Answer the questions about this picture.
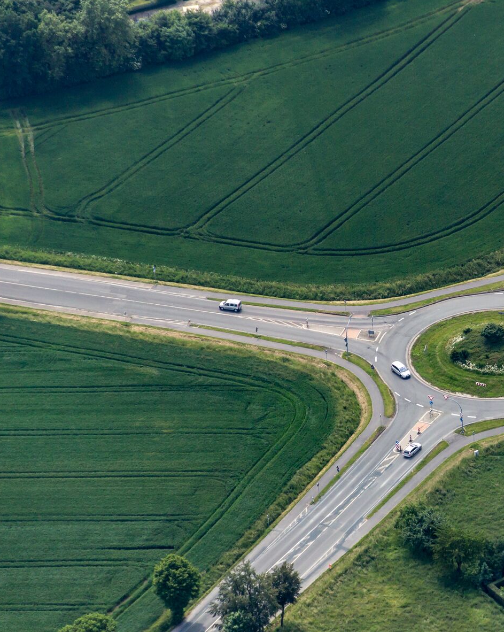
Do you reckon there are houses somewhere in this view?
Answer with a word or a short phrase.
No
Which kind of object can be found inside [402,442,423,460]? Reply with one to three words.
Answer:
car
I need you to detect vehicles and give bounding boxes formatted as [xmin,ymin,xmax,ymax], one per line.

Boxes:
[402,442,423,460]
[219,301,242,313]
[391,361,410,379]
